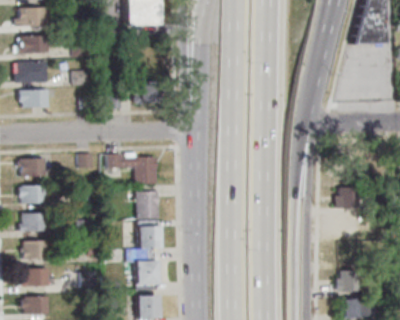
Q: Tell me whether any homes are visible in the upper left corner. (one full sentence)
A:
Yes, I can see a home in the upper left corner.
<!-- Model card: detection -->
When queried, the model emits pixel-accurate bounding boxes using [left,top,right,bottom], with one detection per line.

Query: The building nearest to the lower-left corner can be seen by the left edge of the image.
[18,296,50,316]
